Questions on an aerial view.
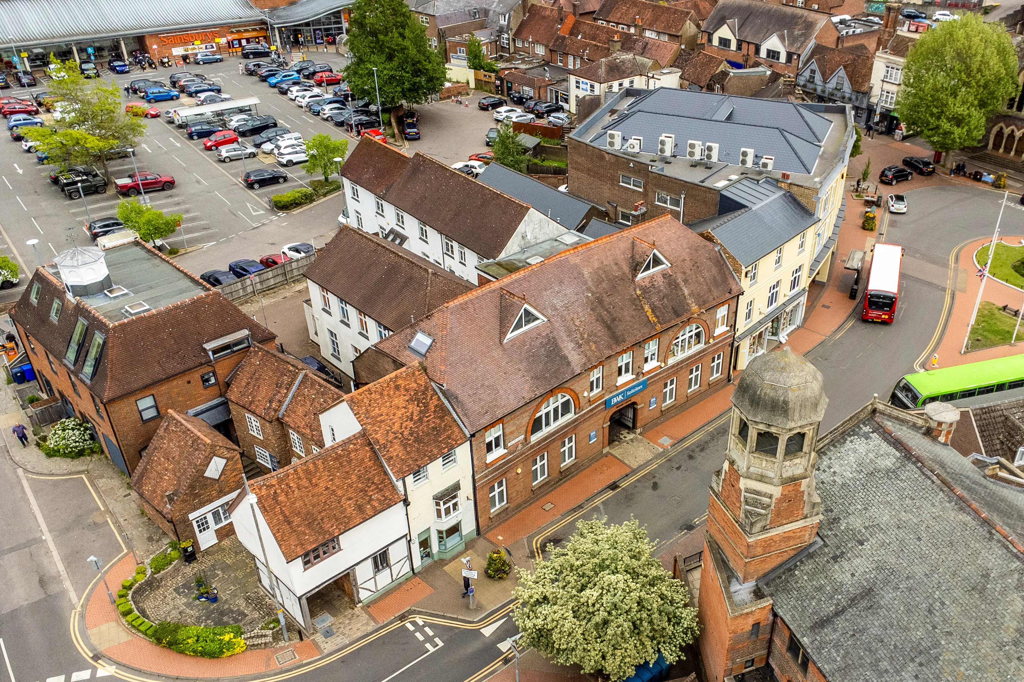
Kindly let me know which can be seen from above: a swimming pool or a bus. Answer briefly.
bus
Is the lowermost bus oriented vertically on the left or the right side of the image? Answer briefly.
right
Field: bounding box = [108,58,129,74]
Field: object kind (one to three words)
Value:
car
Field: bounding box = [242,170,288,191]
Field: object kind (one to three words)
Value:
car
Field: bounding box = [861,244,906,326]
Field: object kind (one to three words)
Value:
bus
